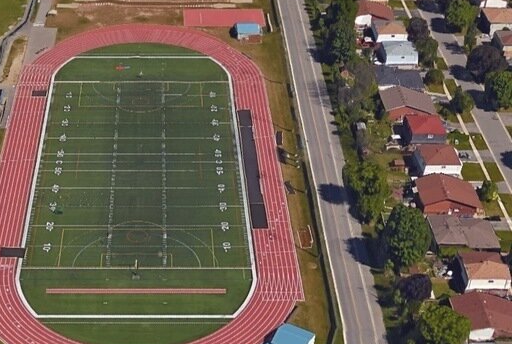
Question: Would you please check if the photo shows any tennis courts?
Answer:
No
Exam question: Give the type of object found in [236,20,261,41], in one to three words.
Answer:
shed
